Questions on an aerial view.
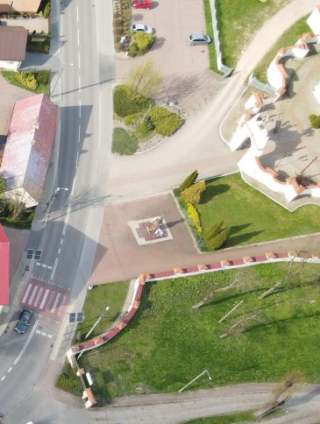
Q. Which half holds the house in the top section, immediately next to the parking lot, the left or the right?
left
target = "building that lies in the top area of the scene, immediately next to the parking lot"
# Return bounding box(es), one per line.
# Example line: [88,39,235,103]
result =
[0,93,58,208]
